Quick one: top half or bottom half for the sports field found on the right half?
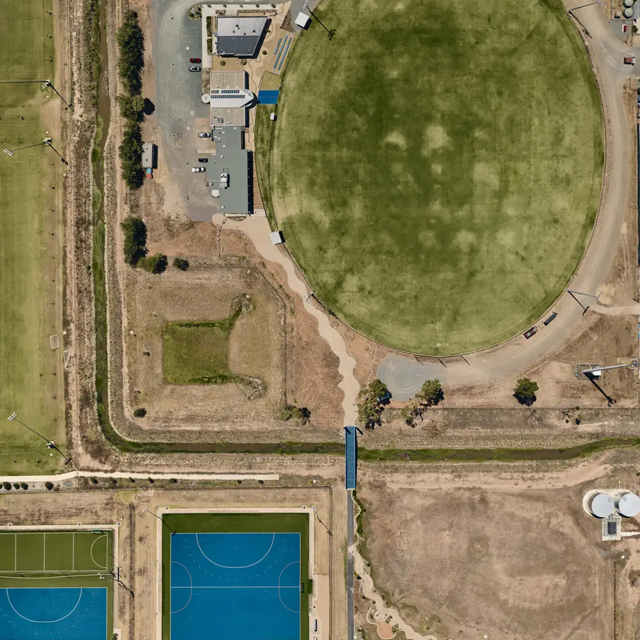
top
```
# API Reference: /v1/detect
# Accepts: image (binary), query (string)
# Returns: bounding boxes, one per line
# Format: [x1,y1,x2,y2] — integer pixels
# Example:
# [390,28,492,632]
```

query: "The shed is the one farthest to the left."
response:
[142,144,156,169]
